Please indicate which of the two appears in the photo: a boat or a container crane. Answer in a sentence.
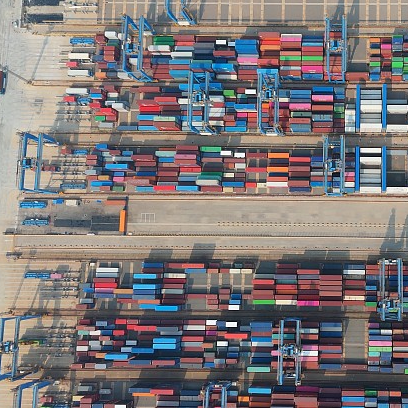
The image shows a container crane.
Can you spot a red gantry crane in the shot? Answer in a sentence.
No, I can see no red gantry crane in this picture.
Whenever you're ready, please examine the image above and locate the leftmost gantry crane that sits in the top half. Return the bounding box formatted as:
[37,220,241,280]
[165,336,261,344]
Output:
[16,130,69,195]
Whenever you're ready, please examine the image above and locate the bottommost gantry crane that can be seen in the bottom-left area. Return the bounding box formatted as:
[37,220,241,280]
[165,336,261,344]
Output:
[14,378,66,408]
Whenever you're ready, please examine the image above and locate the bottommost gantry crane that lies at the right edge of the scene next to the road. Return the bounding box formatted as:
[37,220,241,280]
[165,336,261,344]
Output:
[373,258,405,322]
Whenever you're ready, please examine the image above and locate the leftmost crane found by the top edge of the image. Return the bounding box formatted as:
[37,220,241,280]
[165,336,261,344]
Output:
[119,10,160,81]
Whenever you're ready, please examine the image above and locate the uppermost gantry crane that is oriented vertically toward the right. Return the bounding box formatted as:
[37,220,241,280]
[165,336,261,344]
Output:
[321,11,353,82]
